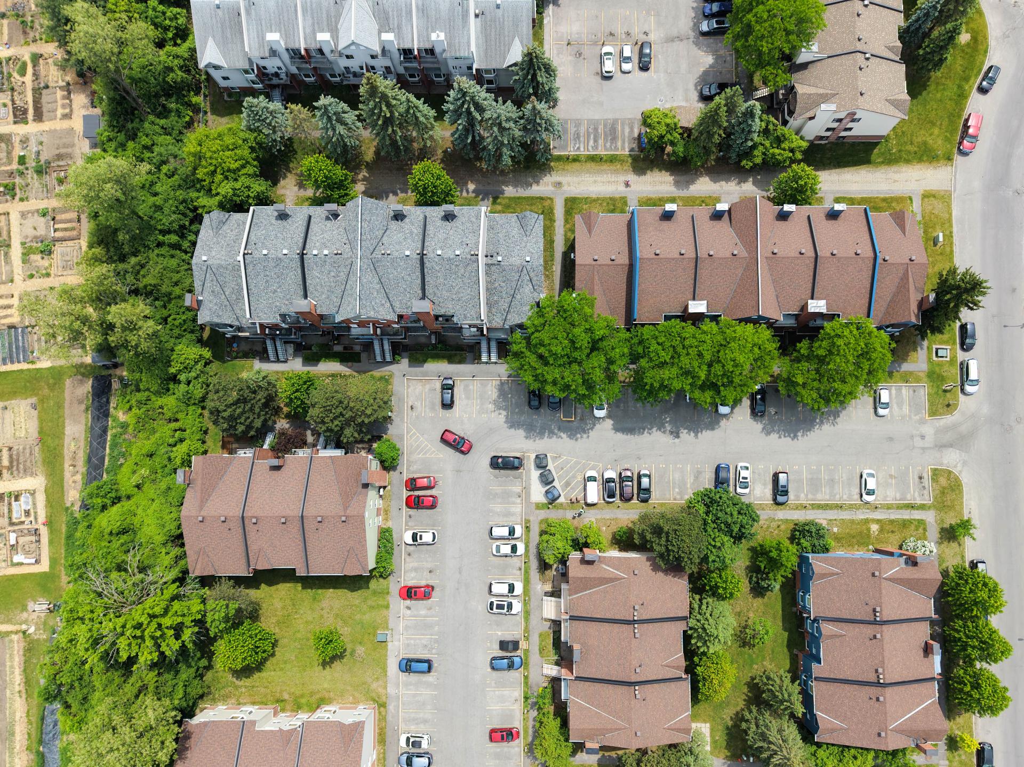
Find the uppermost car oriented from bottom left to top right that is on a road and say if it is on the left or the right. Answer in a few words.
right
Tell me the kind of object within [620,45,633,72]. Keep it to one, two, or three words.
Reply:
vehicle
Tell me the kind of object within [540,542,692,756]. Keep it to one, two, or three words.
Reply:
building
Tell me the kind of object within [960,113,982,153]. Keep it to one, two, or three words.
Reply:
truck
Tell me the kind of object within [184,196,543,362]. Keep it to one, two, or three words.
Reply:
house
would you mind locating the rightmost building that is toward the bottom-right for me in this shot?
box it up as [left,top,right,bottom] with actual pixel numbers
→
[795,542,948,758]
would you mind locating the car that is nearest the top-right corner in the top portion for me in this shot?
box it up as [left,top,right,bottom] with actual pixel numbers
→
[976,63,1003,94]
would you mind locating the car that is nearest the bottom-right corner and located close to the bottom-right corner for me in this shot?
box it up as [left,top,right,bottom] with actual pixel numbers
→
[976,736,996,767]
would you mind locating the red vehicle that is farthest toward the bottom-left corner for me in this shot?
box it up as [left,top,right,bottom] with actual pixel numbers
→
[400,585,432,601]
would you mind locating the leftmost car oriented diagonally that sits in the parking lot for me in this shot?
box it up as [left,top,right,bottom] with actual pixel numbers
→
[439,428,473,454]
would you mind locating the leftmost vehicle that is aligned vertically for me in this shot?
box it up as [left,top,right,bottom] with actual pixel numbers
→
[440,377,455,409]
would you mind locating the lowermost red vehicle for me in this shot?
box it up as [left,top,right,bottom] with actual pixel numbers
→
[488,727,518,744]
